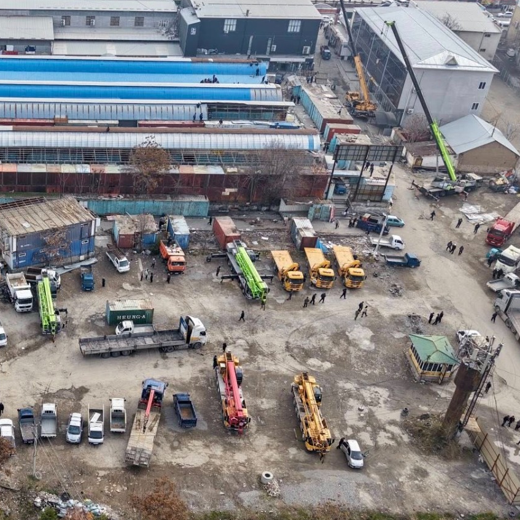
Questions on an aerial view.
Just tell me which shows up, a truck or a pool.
truck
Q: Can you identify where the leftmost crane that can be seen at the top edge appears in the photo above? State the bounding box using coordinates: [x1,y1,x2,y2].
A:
[328,0,392,115]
